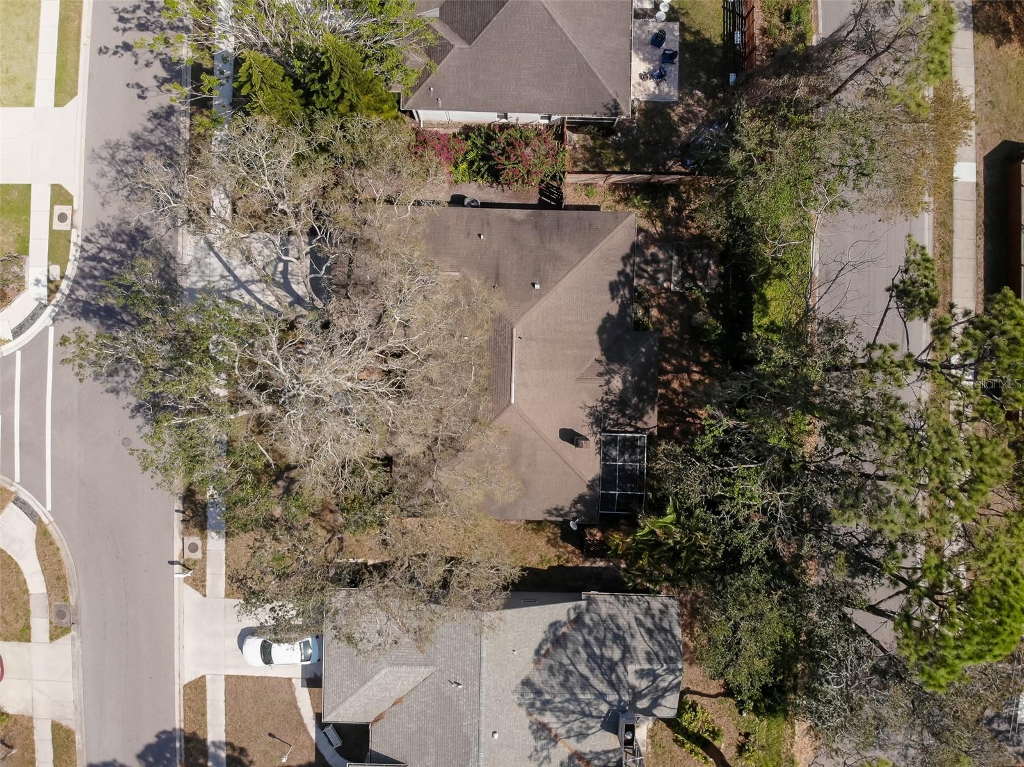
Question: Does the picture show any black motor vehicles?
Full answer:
No, the frame has no black motor vehicle in it.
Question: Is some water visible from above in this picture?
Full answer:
No, no water is visible.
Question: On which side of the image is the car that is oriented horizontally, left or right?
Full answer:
The car that is oriented horizontally is on the left side of the image.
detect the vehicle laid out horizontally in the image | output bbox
[247,633,321,670]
